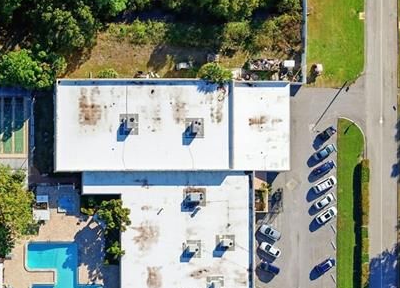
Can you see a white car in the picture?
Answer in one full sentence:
Yes, a white car can be made out from above.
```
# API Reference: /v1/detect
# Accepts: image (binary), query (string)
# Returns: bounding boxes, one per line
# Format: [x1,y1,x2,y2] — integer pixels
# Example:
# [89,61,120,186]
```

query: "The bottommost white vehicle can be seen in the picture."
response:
[259,241,281,258]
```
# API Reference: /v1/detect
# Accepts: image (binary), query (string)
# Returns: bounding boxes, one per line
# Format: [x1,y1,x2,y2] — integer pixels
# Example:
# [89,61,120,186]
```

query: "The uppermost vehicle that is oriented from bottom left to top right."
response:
[315,124,339,143]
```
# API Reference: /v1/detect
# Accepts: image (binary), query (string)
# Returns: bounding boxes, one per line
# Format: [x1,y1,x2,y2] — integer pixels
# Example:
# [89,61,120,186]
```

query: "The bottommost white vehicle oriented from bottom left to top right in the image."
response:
[315,206,338,224]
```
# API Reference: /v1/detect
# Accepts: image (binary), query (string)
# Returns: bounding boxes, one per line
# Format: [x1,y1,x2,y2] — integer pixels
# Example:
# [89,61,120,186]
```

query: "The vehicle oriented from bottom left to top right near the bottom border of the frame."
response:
[313,257,335,274]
